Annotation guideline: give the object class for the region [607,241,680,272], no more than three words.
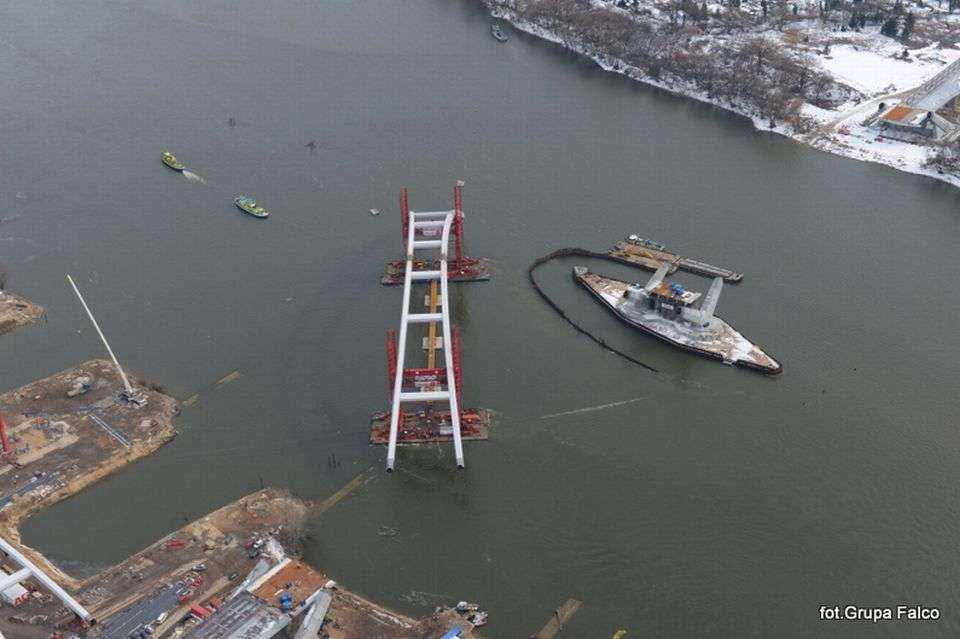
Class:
ship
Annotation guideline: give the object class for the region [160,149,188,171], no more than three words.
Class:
boat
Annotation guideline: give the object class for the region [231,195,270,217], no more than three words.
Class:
boat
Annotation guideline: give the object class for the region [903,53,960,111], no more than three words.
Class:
bridge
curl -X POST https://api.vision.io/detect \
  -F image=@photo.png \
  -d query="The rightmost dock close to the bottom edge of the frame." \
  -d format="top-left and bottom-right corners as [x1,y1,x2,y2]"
[532,597,583,639]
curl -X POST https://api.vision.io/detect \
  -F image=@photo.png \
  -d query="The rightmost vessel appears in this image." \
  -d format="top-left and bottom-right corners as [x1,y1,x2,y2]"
[673,257,743,284]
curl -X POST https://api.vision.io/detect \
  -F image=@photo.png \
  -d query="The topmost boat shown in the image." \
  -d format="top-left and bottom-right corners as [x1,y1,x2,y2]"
[489,22,508,41]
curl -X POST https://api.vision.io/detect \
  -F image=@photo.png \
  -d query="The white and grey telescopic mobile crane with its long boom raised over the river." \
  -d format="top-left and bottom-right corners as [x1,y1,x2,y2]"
[65,273,151,407]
